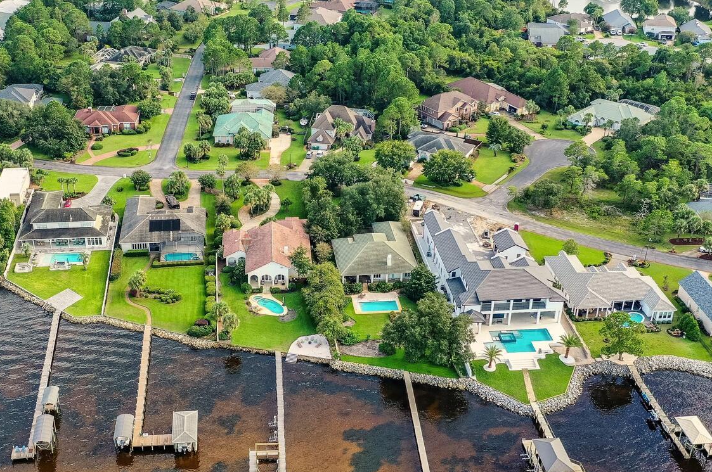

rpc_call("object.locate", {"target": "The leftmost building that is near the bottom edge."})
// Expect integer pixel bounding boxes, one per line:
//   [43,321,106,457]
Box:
[172,411,200,468]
